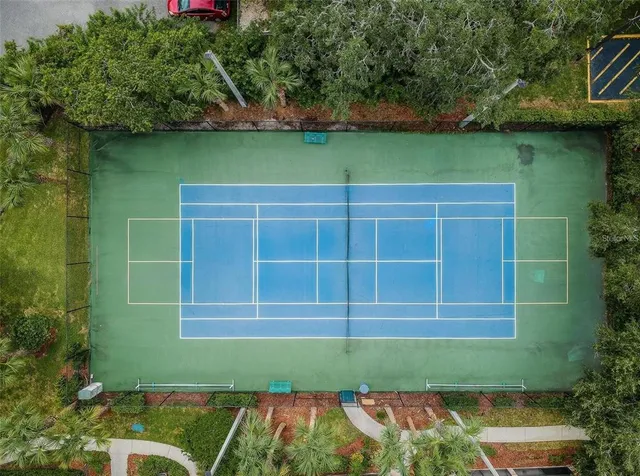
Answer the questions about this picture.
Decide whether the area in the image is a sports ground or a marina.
sports ground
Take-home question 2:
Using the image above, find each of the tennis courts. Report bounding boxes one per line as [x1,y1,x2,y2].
[90,131,604,391]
